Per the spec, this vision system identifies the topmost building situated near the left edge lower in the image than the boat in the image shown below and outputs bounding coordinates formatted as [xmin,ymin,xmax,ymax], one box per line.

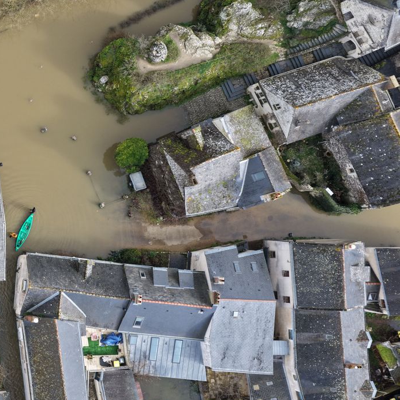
[15,251,131,329]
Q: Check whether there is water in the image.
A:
Yes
